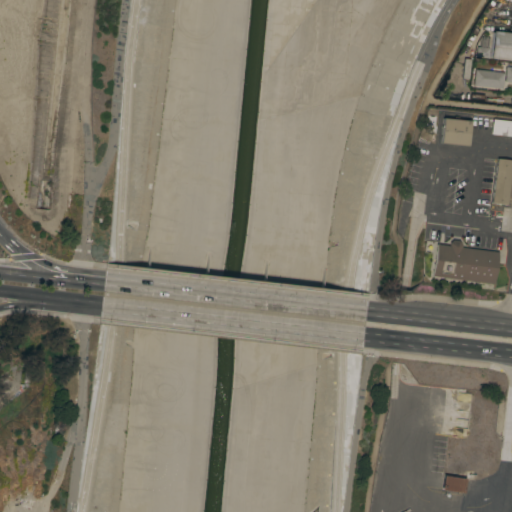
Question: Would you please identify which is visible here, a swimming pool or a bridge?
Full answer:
The image shows a bridge.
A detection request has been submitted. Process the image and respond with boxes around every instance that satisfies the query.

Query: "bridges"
[100,257,370,355]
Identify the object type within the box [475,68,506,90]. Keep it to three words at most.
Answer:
house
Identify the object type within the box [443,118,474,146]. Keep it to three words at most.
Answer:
building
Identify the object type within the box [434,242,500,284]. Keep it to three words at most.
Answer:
building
